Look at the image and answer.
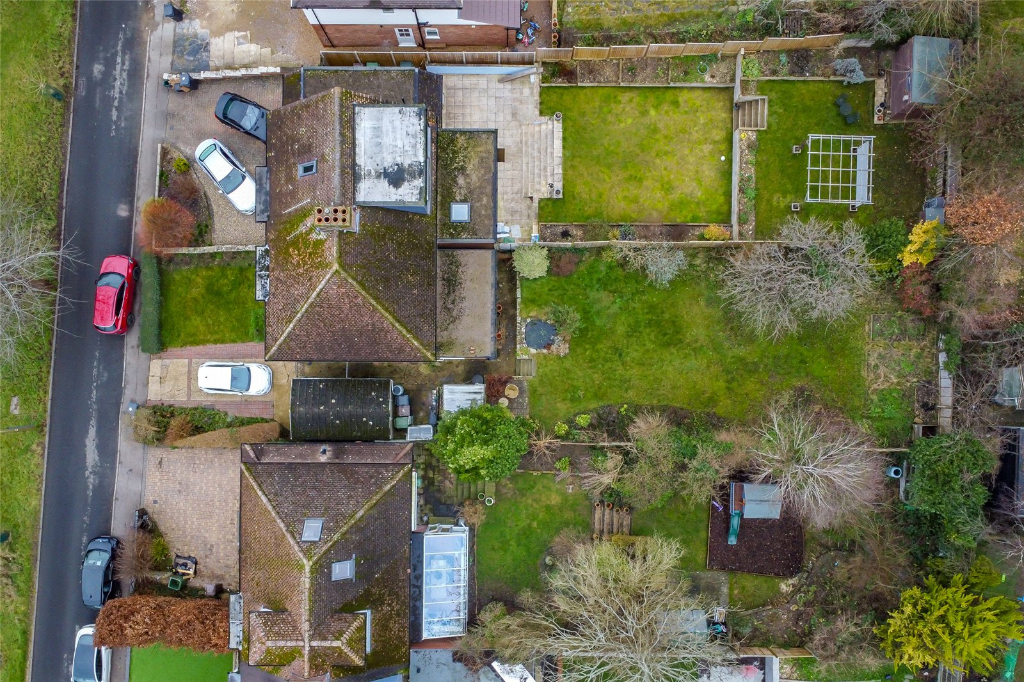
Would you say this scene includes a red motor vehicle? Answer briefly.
Yes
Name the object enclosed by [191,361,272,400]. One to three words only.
car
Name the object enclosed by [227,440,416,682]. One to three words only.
house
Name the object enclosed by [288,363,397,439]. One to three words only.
building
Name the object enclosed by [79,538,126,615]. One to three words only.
car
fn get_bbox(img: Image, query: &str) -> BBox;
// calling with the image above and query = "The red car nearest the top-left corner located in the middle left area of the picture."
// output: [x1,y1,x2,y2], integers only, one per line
[91,255,140,333]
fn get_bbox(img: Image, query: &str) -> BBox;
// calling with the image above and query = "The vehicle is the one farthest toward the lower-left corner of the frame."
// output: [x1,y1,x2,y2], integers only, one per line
[72,626,117,682]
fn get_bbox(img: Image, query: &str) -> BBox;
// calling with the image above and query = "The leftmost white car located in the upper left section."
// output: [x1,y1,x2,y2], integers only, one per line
[186,131,255,211]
